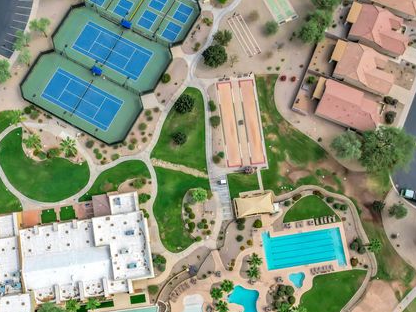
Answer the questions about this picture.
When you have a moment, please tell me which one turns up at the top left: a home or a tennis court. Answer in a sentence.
The one visible at the top left is a tennis court.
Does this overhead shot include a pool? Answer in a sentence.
Yes, there is a pool in the image.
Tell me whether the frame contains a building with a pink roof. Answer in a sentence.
Yes, a building with a pink roof appears in the view.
